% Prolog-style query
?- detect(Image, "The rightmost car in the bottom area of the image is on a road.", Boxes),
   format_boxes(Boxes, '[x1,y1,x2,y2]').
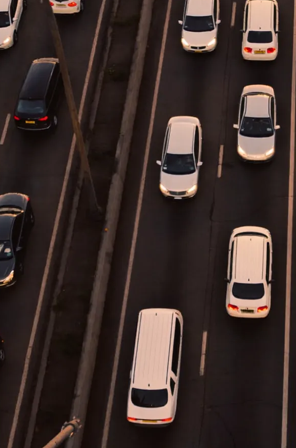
[222,229,275,319]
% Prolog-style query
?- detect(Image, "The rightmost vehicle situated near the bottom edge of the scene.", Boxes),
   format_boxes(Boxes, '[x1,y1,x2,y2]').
[122,313,184,427]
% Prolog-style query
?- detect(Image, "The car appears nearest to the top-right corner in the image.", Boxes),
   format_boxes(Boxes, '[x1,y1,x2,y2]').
[238,0,281,61]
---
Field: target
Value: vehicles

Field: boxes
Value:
[122,313,184,427]
[178,0,220,52]
[222,229,275,319]
[0,195,32,287]
[9,61,63,130]
[233,87,279,163]
[48,0,84,14]
[0,0,27,50]
[238,0,281,61]
[156,120,203,199]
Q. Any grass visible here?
No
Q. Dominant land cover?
paved ground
